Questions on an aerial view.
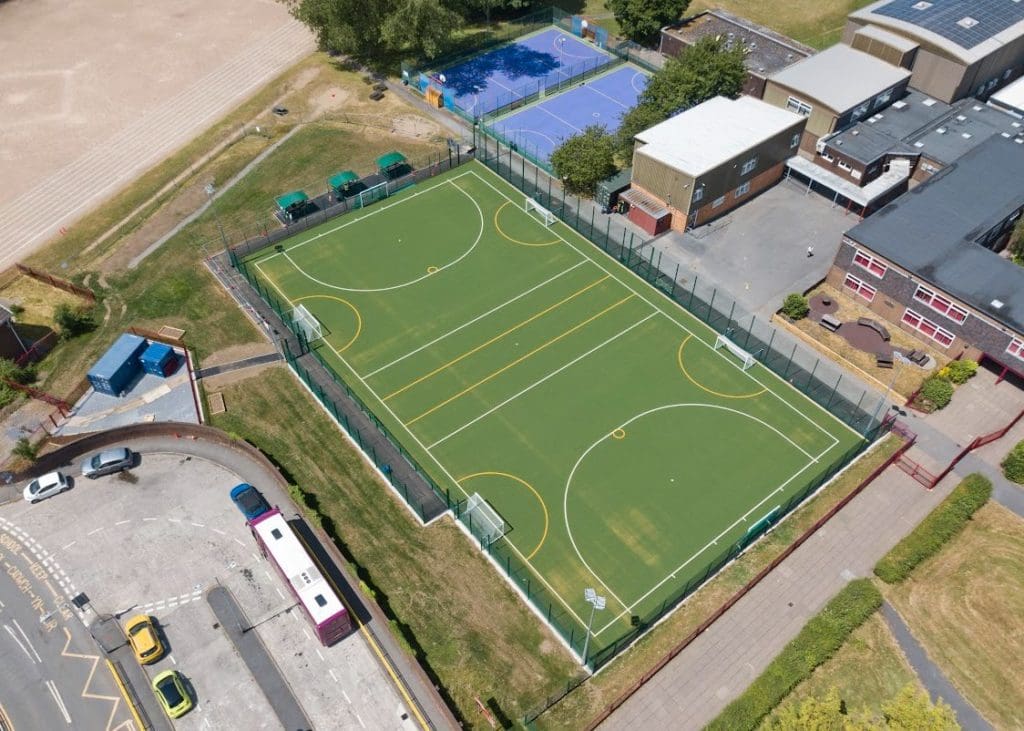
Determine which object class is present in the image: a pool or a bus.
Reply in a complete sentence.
The one in the frame is a bus.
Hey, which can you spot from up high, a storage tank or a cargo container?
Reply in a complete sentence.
Visible in the photo is a cargo container.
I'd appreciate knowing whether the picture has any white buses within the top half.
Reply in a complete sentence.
No, within the top half there is no white bus.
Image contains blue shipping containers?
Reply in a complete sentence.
Yes, there's a blue shipping container down there.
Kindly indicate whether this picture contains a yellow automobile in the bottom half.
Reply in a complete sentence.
Yes, looking in the bottom half, one can make out a yellow automobile.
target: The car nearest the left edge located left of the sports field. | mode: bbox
[20,467,71,503]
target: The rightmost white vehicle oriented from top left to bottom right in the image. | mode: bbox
[245,507,351,645]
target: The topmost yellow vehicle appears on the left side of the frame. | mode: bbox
[123,610,162,662]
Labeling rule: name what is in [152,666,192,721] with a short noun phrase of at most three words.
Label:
car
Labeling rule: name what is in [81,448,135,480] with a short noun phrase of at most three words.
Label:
car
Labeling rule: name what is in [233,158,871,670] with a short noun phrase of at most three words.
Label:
sports field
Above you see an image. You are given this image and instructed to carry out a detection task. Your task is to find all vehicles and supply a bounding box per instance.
[152,666,192,721]
[81,448,135,480]
[123,610,162,662]
[20,467,71,503]
[245,507,351,645]
[232,483,269,524]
